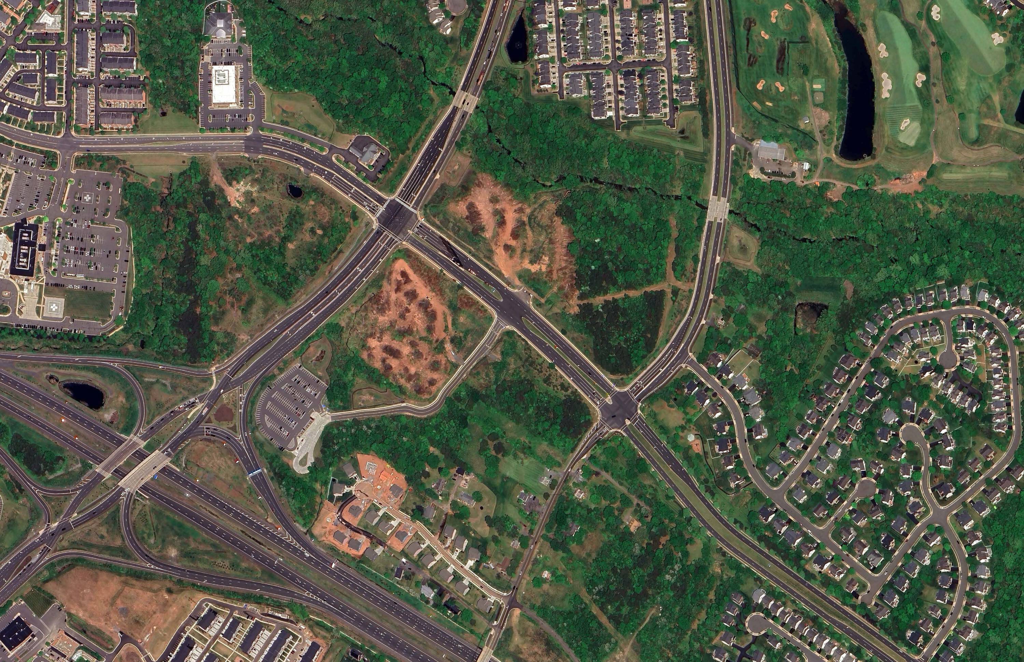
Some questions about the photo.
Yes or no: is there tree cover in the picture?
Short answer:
Yes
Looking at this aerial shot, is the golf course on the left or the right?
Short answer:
right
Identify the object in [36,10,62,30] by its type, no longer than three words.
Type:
building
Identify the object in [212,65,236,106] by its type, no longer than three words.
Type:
building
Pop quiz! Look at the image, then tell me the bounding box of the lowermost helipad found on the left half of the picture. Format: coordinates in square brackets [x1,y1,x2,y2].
[43,297,65,318]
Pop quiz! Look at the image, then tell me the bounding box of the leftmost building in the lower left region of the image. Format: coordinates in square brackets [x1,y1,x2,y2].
[0,616,34,652]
